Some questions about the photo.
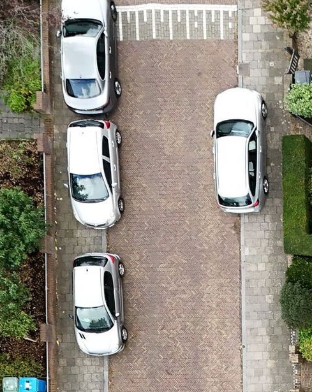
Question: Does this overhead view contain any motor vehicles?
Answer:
Yes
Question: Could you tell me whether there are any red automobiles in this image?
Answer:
No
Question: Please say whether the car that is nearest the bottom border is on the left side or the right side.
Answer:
left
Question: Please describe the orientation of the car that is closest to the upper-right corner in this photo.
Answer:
vertically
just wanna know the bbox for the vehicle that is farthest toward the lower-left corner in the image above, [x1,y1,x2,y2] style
[67,245,131,361]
